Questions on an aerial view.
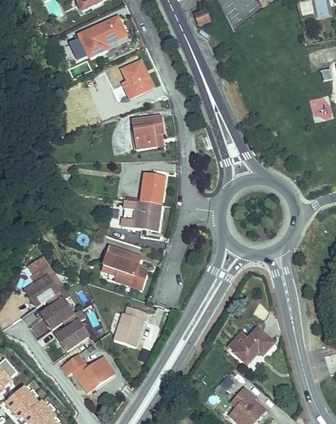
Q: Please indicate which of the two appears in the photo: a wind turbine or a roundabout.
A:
roundabout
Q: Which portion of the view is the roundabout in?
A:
right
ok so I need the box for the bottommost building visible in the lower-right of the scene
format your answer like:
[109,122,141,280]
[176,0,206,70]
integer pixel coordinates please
[228,386,268,424]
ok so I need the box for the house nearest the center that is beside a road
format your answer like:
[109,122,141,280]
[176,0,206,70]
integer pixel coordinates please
[112,172,167,233]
